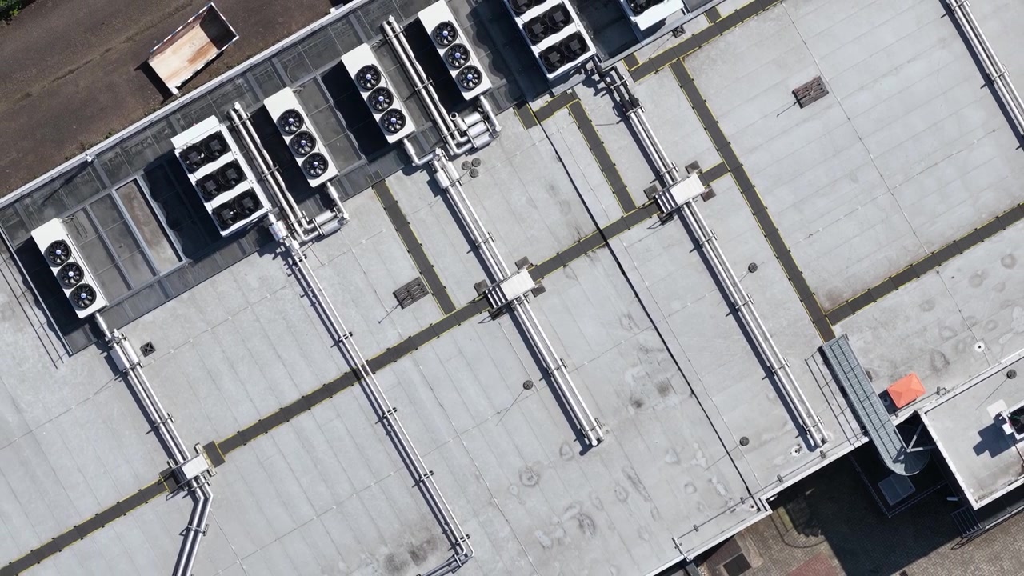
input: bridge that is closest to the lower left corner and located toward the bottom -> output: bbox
[160,440,227,491]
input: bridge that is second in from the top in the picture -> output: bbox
[481,257,546,318]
